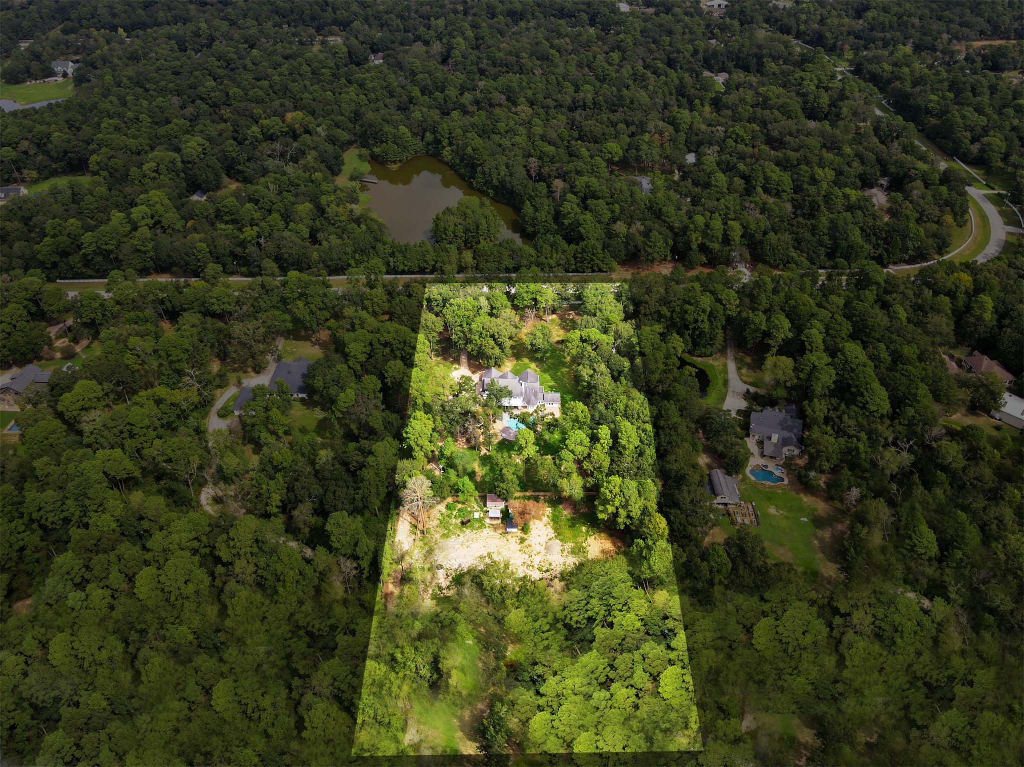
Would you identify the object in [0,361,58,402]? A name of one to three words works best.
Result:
house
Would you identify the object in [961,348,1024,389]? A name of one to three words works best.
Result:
house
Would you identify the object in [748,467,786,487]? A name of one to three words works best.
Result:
swimming pool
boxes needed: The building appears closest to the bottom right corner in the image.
[991,387,1024,430]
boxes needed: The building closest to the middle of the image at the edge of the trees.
[477,366,562,414]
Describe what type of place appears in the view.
forest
